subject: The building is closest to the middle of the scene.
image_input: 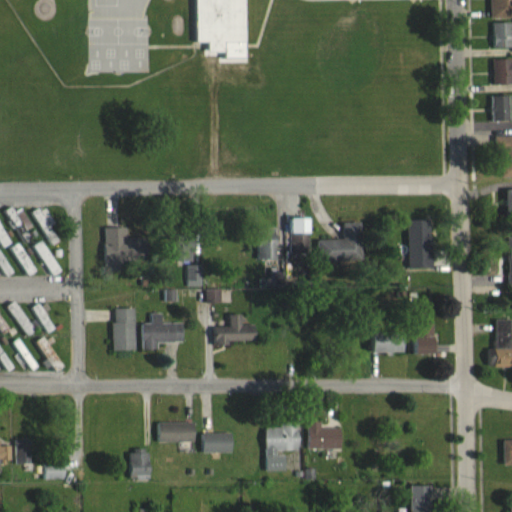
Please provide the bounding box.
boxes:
[258,239,280,260]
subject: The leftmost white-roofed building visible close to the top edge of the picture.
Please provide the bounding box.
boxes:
[198,0,248,64]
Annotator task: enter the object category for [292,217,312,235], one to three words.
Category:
building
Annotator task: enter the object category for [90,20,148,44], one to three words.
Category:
basketball court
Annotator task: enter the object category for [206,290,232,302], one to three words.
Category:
shed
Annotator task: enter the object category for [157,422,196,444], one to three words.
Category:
house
